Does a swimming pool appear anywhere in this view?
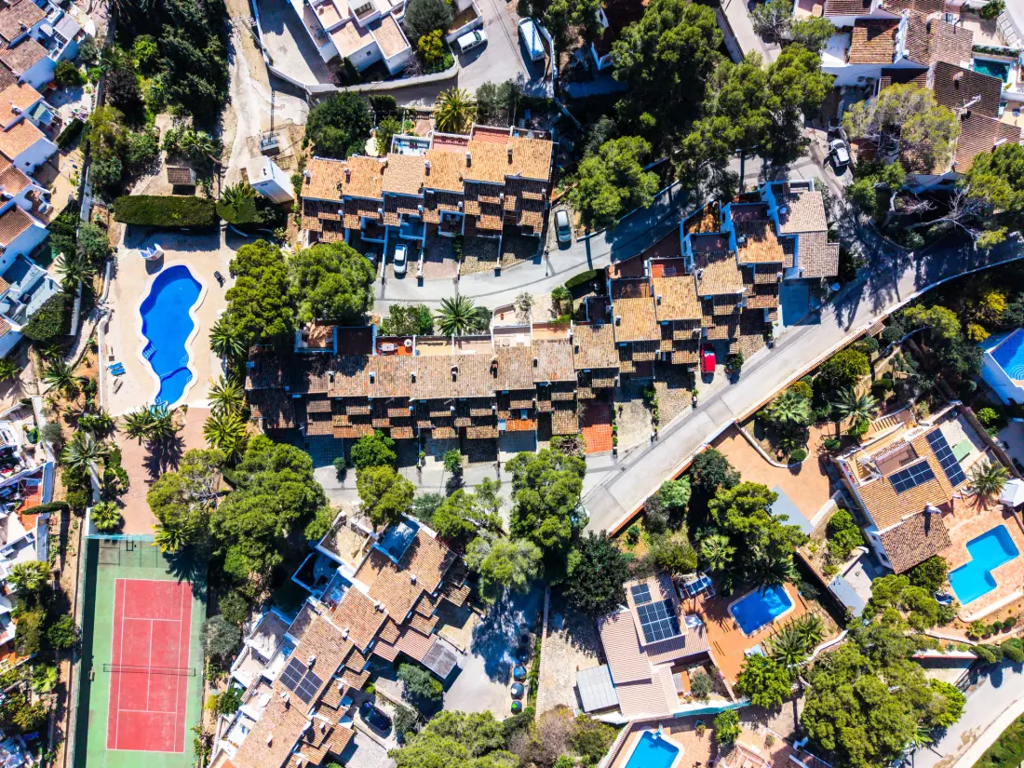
Yes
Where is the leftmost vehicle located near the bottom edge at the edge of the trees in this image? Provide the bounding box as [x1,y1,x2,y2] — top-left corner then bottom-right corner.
[360,700,390,732]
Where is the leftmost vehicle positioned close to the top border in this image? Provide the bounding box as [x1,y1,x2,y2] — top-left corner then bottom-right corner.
[455,28,490,52]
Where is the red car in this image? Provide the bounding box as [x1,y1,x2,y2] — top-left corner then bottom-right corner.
[700,344,716,375]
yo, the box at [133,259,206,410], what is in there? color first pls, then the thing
blue swimming pool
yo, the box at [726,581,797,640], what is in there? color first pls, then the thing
blue swimming pool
